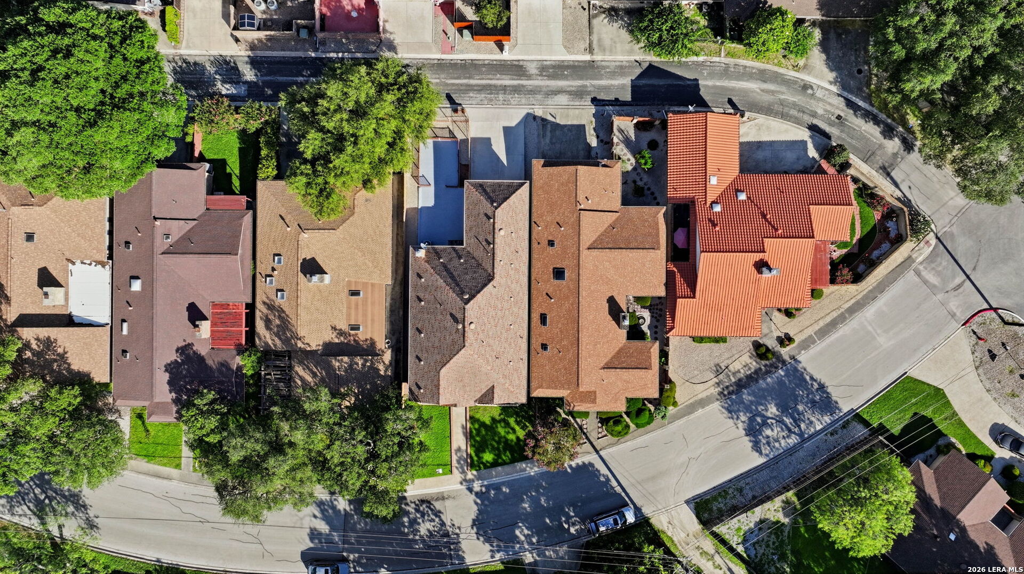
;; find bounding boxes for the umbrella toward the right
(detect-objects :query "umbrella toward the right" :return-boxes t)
[671,229,691,248]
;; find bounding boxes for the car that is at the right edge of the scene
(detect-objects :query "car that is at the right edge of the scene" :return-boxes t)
[994,434,1024,462]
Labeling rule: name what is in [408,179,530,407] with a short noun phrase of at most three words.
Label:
house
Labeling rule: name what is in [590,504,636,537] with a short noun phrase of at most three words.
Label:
car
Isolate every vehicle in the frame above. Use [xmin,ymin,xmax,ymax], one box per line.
[307,561,351,574]
[590,504,636,537]
[994,434,1024,462]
